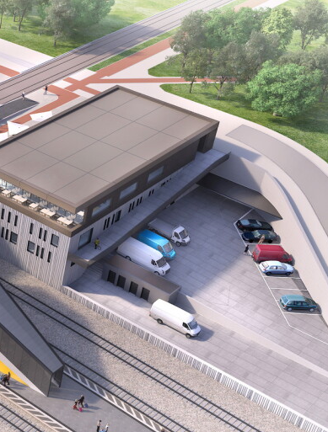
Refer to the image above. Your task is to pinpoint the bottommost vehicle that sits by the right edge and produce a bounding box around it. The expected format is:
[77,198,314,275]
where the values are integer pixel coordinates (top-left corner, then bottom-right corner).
[279,293,319,309]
